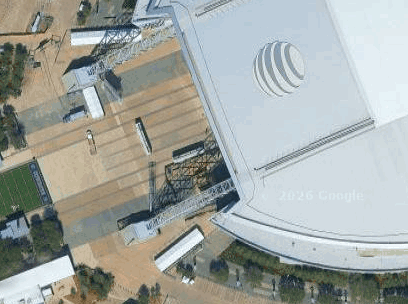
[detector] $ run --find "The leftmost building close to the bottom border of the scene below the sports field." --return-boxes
[0,256,76,304]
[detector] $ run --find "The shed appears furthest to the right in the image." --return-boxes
[153,230,206,275]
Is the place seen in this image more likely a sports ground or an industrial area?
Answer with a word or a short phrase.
sports ground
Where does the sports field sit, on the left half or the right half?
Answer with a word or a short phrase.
left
